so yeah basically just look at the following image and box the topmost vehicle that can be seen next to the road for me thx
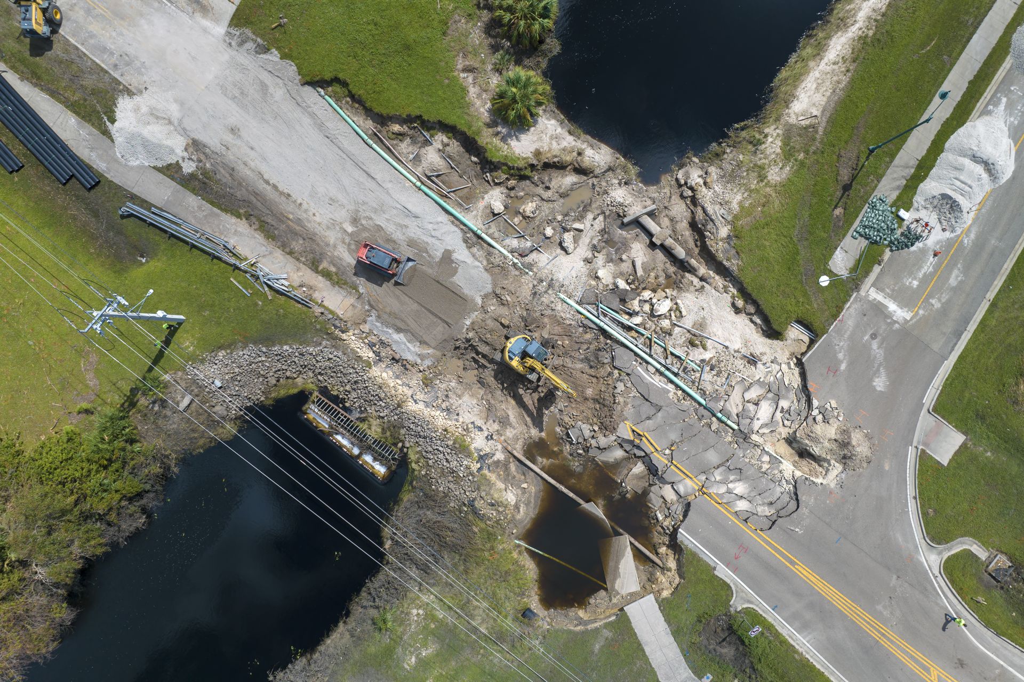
[19,0,67,45]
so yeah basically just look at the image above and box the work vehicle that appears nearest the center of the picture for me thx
[495,328,580,396]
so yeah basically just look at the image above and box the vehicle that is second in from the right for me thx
[351,239,411,286]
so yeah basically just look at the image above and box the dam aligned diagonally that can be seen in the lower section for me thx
[302,393,399,482]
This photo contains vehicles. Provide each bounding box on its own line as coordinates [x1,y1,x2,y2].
[19,0,67,45]
[351,239,411,286]
[495,328,580,396]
